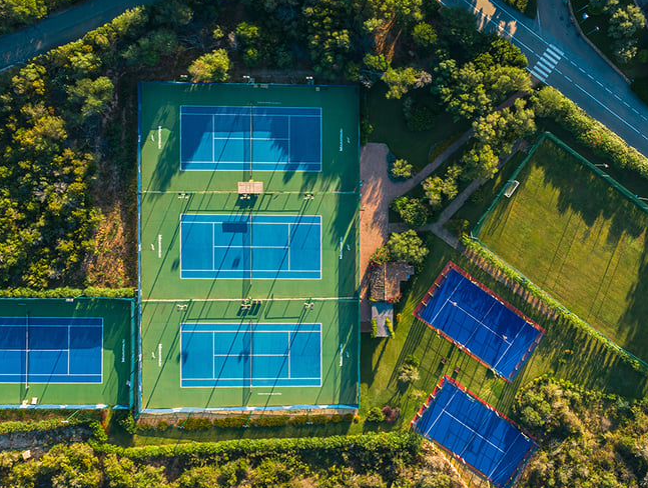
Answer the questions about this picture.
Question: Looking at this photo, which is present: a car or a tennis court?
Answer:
tennis court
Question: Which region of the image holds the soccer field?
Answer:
right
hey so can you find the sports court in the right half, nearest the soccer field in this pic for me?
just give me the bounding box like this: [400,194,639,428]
[412,261,550,386]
